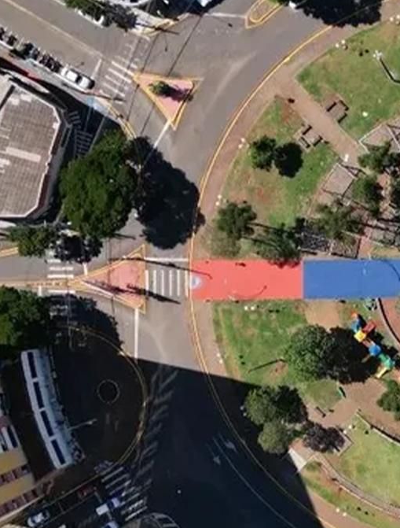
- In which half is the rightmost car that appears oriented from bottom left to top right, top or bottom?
bottom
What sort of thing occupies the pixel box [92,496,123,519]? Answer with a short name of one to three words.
car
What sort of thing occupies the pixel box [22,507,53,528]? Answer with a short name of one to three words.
car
